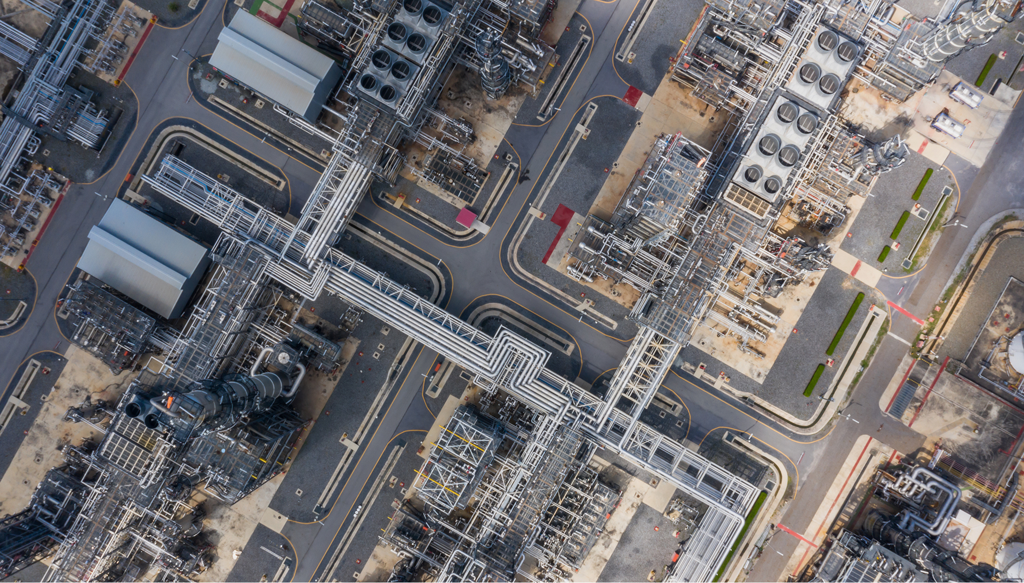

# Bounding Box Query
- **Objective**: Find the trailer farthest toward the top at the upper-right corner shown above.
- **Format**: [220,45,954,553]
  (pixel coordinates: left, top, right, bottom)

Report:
[947,76,993,107]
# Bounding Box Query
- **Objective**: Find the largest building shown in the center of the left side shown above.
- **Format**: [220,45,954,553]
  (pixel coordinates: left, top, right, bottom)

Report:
[78,197,219,320]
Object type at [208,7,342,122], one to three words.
warehouse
